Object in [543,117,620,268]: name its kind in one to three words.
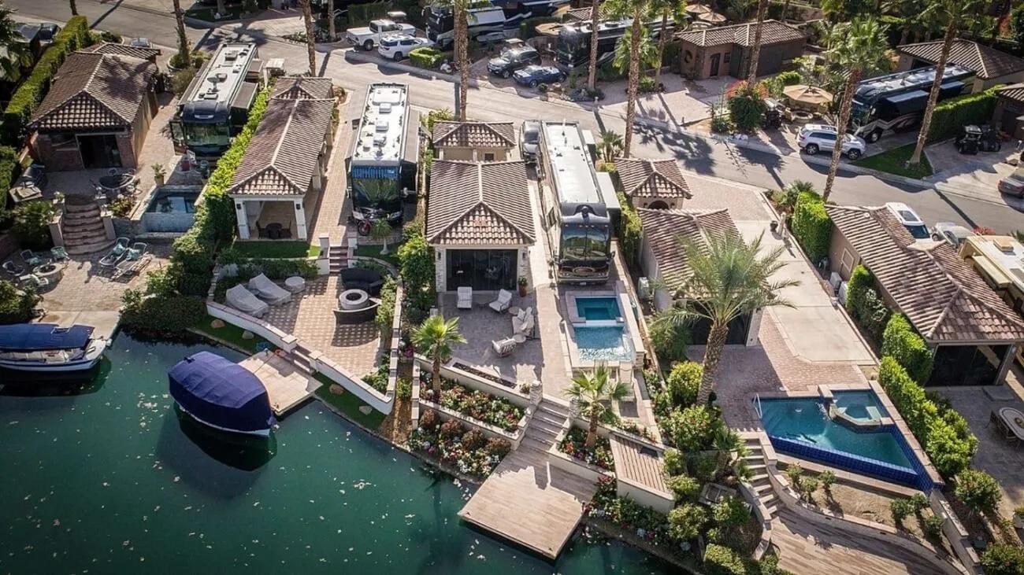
camper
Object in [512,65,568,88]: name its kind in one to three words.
car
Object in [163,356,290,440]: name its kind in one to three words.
boat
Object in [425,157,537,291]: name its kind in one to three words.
house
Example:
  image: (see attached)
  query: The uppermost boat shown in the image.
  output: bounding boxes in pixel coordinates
[0,317,105,375]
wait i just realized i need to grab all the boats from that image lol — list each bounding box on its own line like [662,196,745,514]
[0,317,105,375]
[163,356,290,440]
